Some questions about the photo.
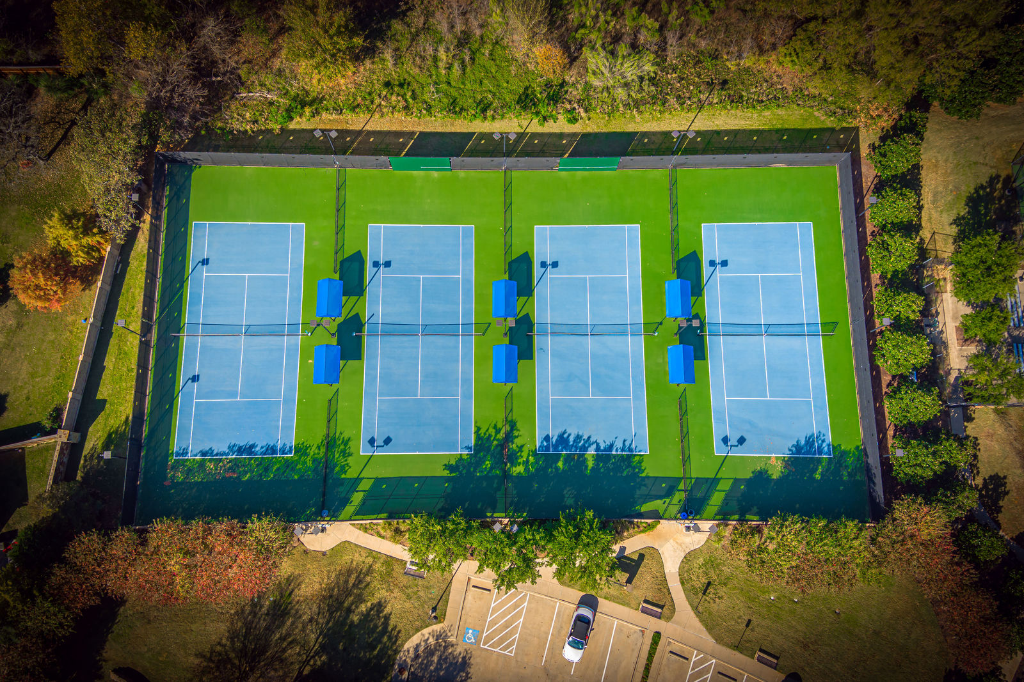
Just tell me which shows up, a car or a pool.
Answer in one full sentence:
The image shows a car.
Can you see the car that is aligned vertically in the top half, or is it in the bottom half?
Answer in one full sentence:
Seen from above, the car that is aligned vertically lies in the bottom half of the view.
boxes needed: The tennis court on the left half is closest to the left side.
[134,165,339,525]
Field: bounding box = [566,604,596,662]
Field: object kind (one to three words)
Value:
car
